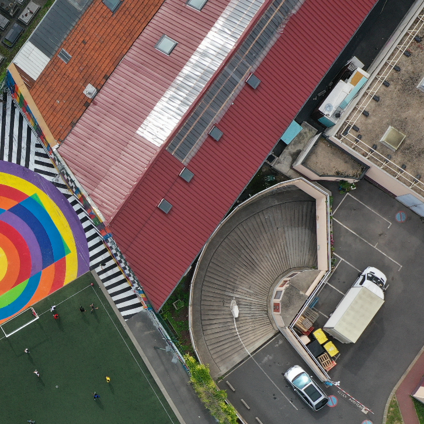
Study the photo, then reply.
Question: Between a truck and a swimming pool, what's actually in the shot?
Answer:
truck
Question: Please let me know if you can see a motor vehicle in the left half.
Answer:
No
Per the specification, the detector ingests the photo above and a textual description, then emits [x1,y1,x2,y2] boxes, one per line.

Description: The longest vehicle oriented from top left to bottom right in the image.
[279,362,335,417]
